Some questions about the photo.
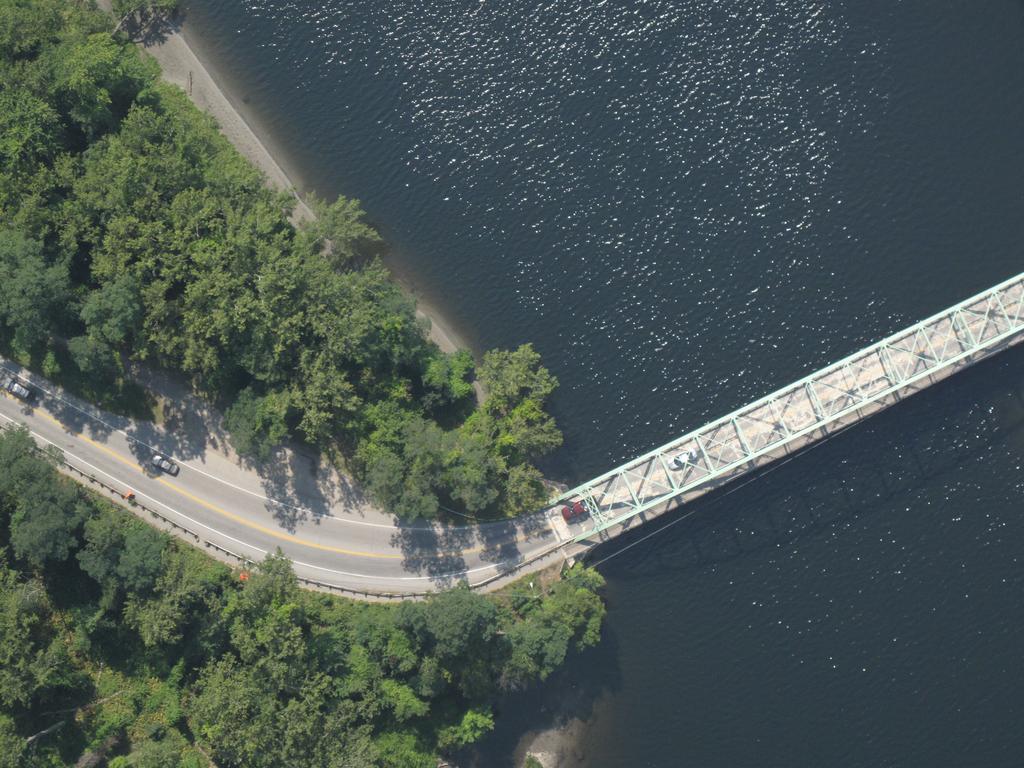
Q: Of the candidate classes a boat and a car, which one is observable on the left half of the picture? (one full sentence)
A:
The feature located on the left half of the picture is a car.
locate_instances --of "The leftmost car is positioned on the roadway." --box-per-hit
[0,375,32,398]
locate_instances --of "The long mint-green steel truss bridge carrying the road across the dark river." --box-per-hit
[546,269,1024,567]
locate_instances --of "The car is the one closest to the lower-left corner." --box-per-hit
[149,454,180,477]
